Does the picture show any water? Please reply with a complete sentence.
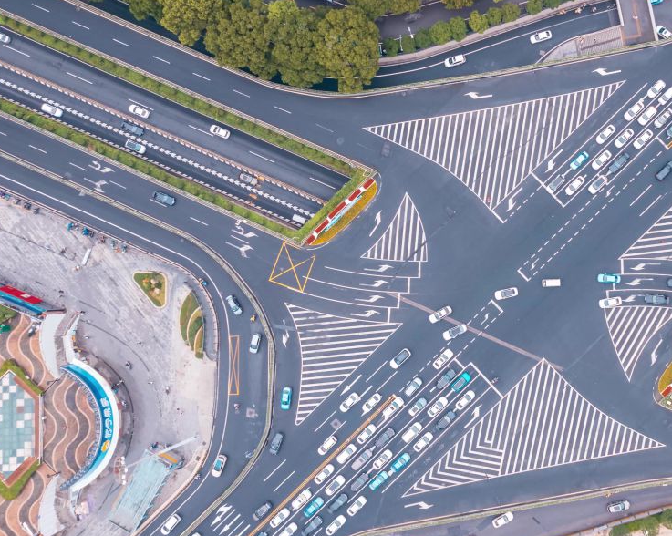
No, no water is visible.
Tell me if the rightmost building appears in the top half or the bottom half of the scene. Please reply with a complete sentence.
Seen from above, the rightmost building lies in the bottom half of the view.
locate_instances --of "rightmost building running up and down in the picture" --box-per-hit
[58,357,124,494]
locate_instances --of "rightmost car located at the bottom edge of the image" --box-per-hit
[607,500,631,514]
